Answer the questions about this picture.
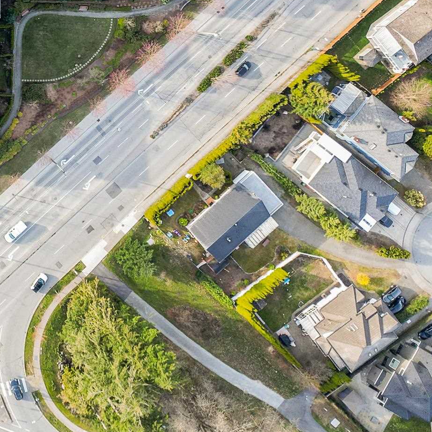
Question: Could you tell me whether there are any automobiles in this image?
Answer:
Yes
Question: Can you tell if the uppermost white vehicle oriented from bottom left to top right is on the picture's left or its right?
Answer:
left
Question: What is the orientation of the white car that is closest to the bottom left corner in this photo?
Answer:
diagonally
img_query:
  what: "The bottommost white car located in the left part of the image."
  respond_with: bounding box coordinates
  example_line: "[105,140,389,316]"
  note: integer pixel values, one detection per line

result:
[29,272,49,293]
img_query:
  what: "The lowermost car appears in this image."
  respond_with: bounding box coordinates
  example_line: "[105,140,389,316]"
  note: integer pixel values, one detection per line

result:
[10,377,23,400]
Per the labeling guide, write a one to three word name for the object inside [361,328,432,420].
house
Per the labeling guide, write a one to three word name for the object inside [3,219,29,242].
vehicle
